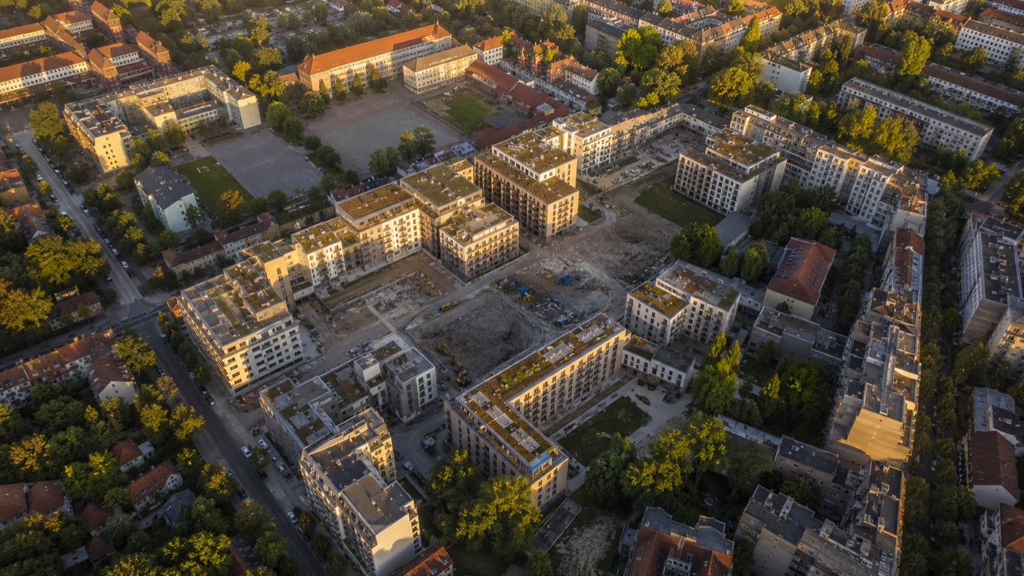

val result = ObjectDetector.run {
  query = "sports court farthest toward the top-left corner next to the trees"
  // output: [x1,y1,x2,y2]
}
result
[207,130,317,195]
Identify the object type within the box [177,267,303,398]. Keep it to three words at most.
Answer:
building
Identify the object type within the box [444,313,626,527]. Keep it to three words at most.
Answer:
building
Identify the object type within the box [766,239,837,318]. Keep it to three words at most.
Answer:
house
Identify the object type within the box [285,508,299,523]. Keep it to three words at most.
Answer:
car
